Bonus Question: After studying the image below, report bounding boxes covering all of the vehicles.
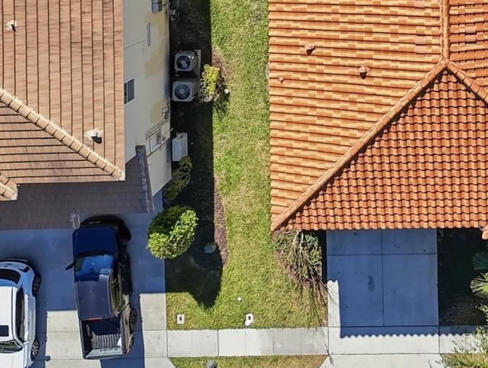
[73,214,139,361]
[0,257,39,368]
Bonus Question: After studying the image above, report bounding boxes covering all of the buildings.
[0,0,172,216]
[266,0,488,247]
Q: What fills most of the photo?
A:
buildings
